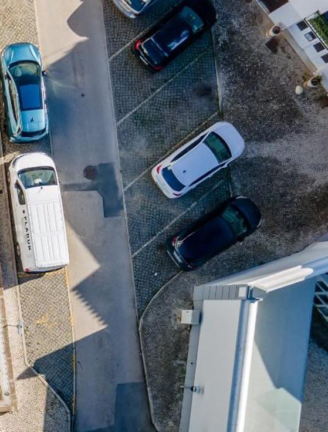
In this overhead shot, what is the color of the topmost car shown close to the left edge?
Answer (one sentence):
From above, the topmost car shown close to the left edge appears blue.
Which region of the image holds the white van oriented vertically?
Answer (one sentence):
The white van oriented vertically is located in the left region of the scene.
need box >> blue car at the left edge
[0,45,50,146]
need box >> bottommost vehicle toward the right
[157,194,261,277]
